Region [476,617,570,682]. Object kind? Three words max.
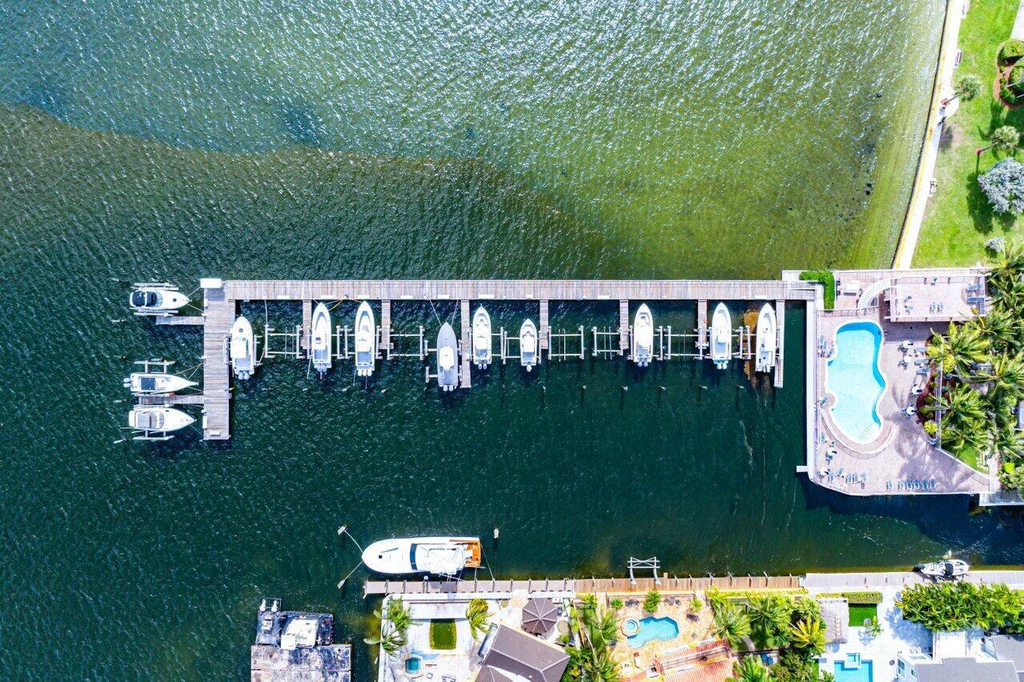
house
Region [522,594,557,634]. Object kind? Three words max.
gazebo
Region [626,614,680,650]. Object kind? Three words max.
swimming pool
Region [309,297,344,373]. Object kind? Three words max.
boat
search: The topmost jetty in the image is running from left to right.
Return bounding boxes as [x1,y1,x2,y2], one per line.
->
[139,271,813,441]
